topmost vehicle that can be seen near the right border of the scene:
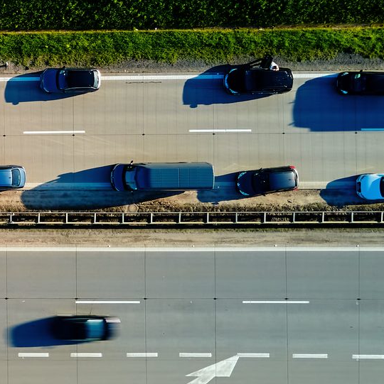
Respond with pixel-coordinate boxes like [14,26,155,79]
[335,68,384,98]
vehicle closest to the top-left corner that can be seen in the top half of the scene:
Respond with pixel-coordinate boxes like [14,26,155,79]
[40,64,101,94]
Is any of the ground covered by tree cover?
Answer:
No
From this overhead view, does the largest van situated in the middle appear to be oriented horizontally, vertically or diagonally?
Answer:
horizontally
